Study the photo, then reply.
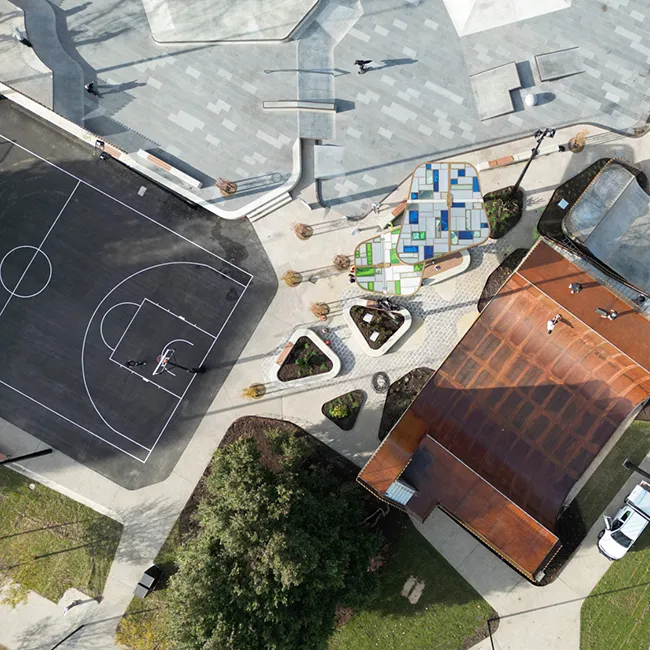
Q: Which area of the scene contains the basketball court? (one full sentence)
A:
You can find the basketball court in the left area of the picture.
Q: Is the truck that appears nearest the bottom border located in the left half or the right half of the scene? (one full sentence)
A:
The truck that appears nearest the bottom border sits on the right side.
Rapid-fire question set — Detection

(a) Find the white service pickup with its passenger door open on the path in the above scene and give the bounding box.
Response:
[598,474,650,562]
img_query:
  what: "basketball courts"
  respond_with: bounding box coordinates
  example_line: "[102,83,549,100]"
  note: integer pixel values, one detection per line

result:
[0,98,279,490]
